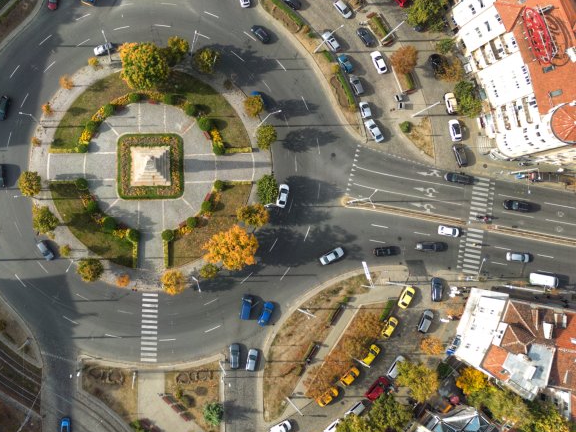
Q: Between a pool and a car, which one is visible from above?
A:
car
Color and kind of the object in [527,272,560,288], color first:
white vehicle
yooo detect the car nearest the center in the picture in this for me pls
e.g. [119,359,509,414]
[276,183,290,209]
